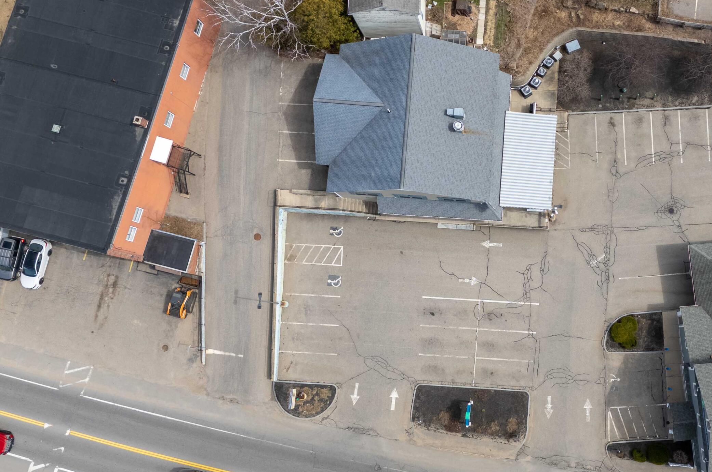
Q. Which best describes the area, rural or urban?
urban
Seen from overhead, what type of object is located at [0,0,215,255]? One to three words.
building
